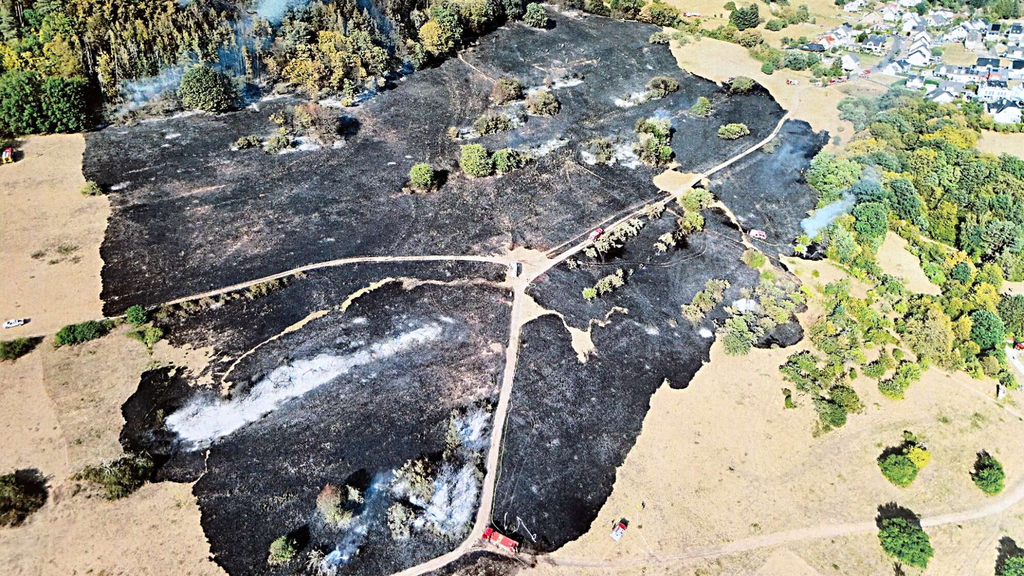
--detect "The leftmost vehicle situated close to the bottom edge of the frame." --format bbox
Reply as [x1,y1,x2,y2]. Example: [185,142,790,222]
[483,528,519,555]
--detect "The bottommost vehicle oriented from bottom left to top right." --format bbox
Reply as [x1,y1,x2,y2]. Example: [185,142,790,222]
[610,519,629,540]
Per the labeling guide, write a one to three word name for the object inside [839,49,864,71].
house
